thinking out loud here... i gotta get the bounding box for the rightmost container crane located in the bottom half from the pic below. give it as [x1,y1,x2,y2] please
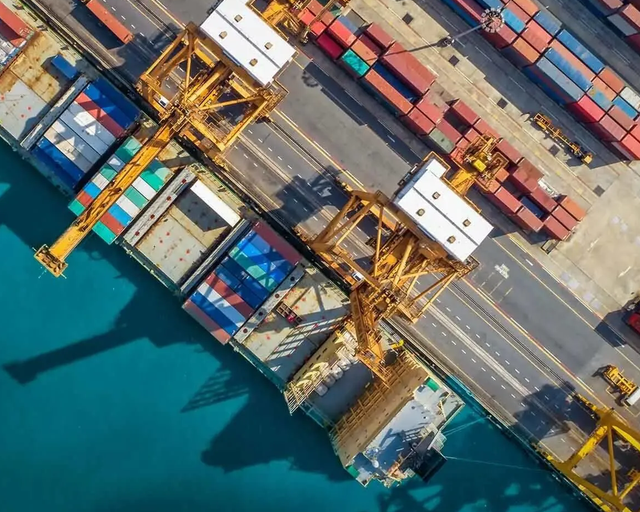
[531,388,640,512]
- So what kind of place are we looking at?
port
